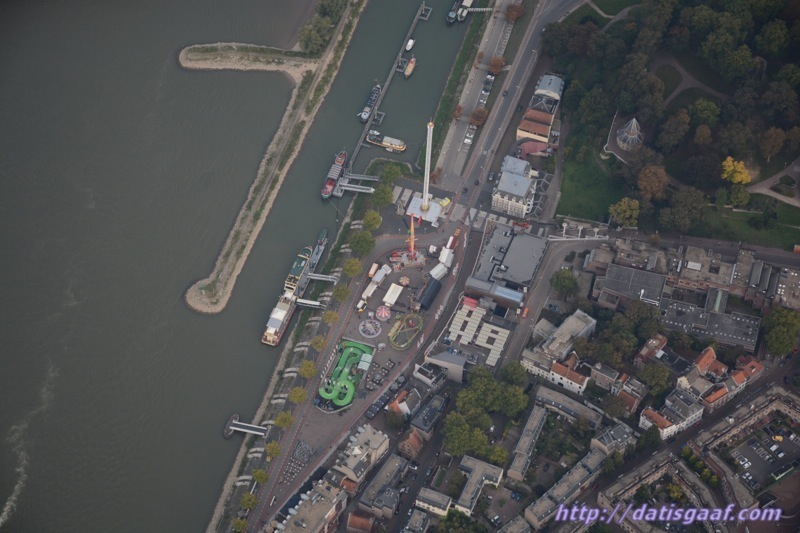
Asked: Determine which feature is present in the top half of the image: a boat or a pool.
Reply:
boat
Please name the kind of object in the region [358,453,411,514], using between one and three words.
building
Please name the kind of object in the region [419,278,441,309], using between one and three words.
tent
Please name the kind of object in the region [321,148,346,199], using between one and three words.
boat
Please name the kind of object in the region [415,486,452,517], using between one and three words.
house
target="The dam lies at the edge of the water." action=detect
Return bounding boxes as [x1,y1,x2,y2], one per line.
[179,0,362,313]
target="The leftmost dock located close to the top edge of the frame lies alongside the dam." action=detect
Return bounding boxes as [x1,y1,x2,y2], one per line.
[349,0,427,165]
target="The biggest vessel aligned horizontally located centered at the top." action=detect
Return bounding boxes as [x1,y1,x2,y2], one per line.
[366,133,407,149]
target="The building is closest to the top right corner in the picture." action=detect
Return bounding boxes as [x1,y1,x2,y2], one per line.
[618,114,646,151]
